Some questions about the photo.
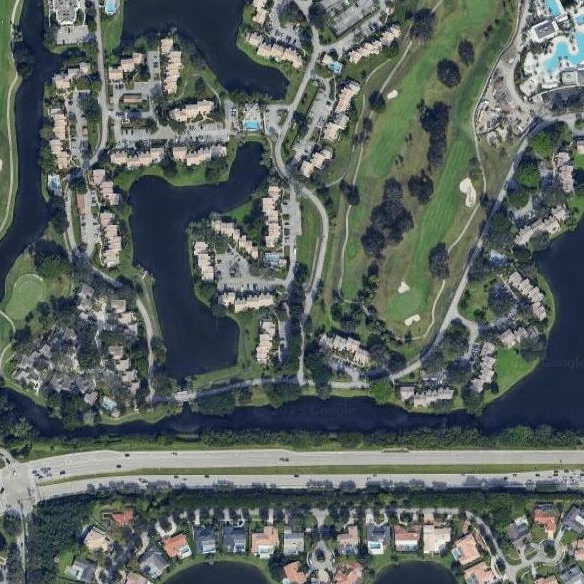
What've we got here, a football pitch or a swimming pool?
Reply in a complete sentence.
The image shows a swimming pool.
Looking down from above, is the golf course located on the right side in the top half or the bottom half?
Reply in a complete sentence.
It is in the top half that the golf course located on the right side appears.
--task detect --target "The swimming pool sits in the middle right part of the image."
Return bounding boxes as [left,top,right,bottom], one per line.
[489,250,509,264]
